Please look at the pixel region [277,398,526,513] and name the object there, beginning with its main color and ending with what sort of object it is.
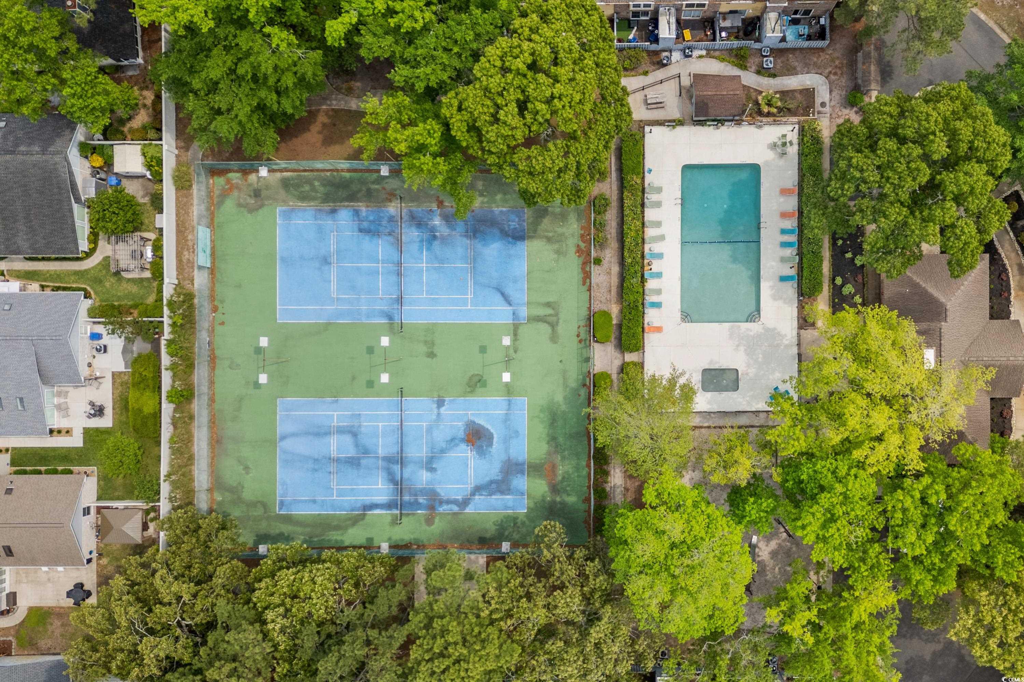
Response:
blue tennis court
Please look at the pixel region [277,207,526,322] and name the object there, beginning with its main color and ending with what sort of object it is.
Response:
blue tennis court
